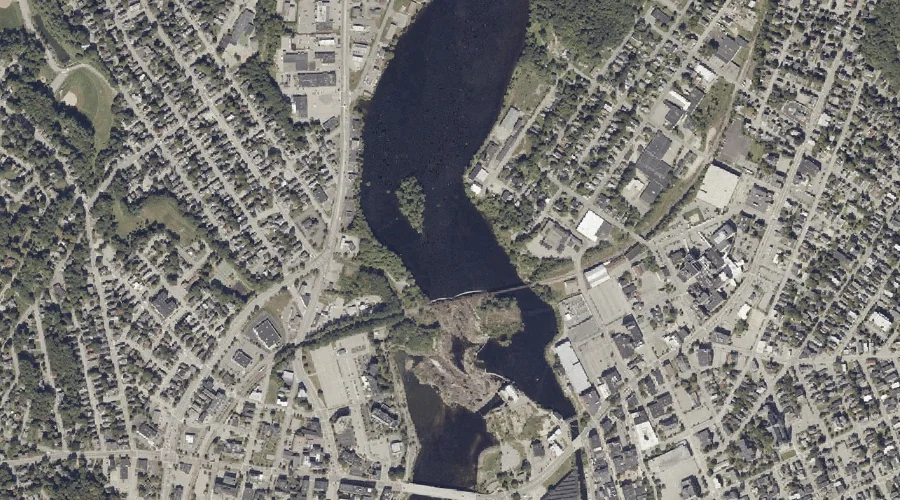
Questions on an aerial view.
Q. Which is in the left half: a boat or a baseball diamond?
baseball diamond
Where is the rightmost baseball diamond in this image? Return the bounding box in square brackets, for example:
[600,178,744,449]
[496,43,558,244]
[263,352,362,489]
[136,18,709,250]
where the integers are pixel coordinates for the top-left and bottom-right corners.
[60,66,103,143]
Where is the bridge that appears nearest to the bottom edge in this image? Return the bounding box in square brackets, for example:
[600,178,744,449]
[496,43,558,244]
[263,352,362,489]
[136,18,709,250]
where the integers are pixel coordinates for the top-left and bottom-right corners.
[405,479,477,499]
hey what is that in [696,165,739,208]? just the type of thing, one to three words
building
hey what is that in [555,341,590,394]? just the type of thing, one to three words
building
